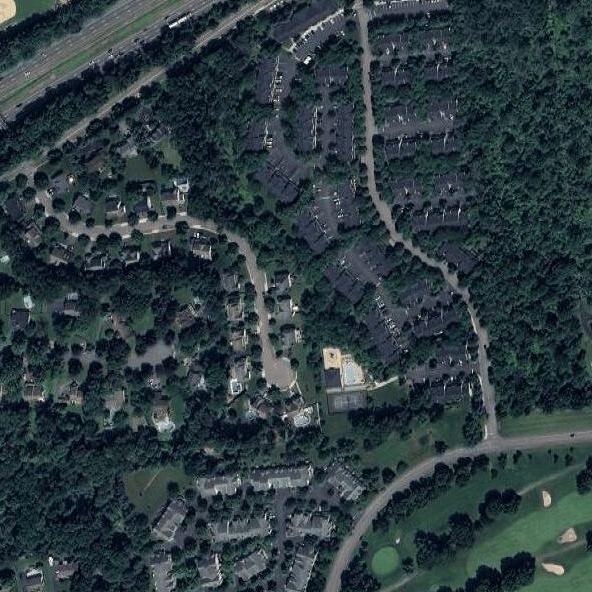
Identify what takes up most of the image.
trees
